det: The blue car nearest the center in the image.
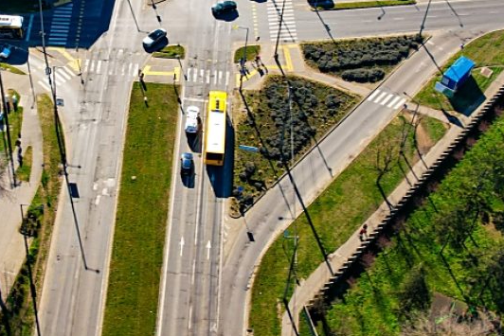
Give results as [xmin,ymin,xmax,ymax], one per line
[180,153,195,177]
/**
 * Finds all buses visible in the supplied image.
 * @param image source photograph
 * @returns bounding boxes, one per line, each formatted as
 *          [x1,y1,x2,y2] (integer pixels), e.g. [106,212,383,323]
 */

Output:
[201,93,228,168]
[0,14,25,38]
